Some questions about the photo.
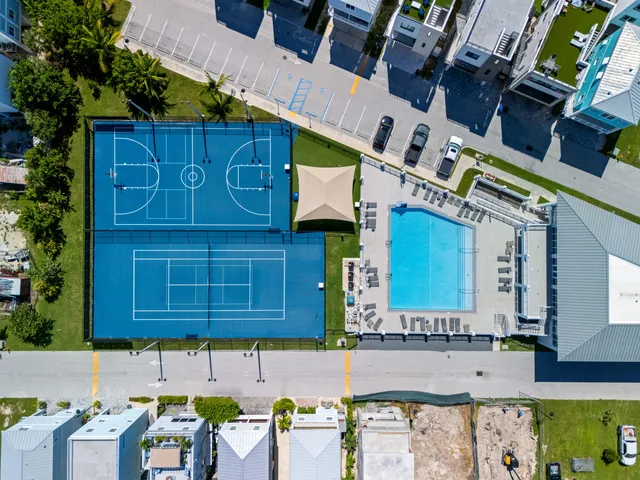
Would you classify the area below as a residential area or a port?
residential area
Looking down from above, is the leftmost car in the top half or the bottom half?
top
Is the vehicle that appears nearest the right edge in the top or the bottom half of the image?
bottom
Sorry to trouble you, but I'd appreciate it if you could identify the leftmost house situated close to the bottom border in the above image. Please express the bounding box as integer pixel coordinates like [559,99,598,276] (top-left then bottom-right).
[1,400,81,480]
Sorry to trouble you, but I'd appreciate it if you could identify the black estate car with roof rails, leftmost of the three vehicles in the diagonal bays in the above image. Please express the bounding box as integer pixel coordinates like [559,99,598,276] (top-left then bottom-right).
[372,118,394,151]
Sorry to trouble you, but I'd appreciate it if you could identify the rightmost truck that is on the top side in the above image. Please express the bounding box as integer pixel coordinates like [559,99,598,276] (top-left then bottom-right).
[437,138,462,179]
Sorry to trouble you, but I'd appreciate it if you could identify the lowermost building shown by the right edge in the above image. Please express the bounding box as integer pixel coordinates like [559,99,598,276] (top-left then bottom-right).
[537,190,640,362]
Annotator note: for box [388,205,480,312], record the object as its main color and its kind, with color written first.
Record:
blue swimming pool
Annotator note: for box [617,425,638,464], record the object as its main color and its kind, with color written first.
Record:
white vehicle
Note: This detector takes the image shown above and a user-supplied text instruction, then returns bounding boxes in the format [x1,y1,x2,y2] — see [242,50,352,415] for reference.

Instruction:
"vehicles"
[437,138,462,179]
[372,118,394,151]
[502,449,521,480]
[617,425,638,464]
[404,126,429,166]
[544,462,562,480]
